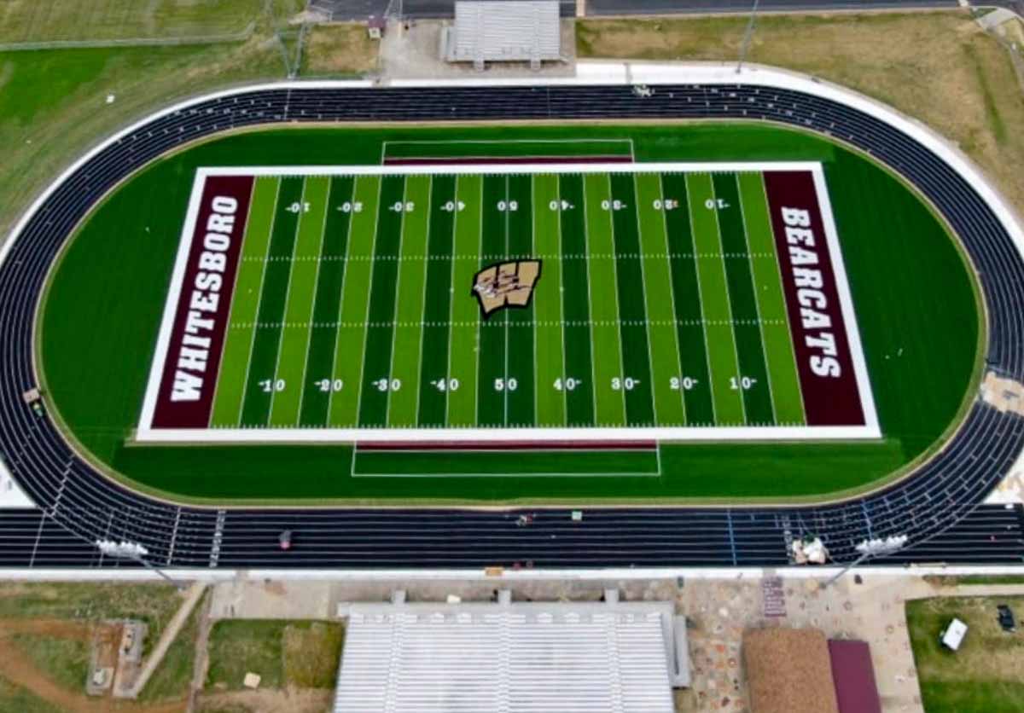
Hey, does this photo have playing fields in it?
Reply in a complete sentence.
Yes, there's a playing field here.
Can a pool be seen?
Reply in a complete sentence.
No, the picture doesn't show any pool.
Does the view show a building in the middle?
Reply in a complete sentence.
No, no building appears in the middle.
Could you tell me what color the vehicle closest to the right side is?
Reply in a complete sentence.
The color of the vehicle closest to the right side is black.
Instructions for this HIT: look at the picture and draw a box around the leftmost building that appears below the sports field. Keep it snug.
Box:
[743,629,839,713]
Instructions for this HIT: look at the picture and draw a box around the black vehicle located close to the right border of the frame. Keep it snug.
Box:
[996,606,1019,631]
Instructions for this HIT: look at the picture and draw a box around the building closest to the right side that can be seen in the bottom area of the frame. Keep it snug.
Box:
[828,640,880,713]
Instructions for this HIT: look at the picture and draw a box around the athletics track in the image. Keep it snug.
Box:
[0,84,1024,569]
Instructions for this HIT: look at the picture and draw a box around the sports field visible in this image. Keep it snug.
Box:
[151,171,865,428]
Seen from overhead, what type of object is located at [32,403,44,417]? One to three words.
vehicle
